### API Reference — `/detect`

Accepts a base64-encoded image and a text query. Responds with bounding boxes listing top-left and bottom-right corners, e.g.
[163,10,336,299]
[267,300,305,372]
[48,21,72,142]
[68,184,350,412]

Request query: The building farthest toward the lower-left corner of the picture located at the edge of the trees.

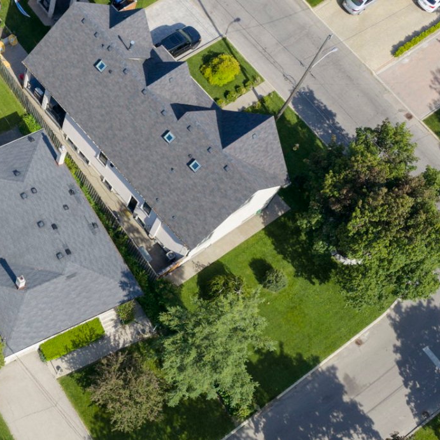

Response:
[0,129,144,364]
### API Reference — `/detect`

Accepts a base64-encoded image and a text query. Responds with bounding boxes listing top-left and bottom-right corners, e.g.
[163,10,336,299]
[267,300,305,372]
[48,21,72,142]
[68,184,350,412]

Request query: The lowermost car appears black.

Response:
[157,23,205,55]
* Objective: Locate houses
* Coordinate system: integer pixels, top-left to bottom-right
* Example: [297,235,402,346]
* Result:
[0,129,144,364]
[21,1,295,262]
